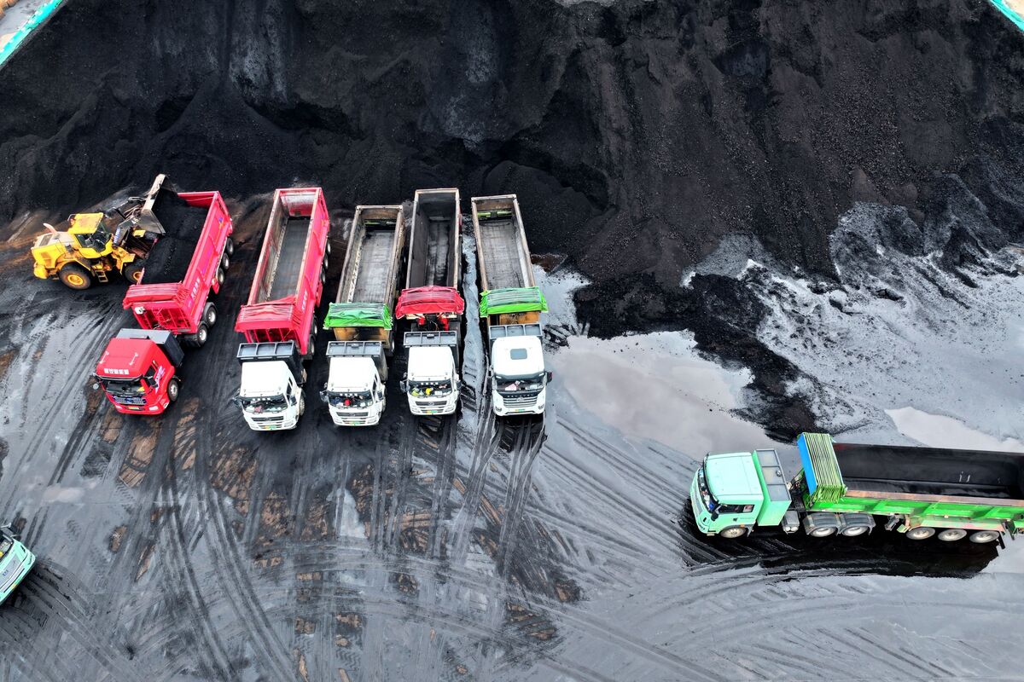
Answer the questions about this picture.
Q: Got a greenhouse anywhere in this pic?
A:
No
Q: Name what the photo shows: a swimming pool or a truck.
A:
truck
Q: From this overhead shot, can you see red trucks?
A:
Yes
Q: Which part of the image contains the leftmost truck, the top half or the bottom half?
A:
bottom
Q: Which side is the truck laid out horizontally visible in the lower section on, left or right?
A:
right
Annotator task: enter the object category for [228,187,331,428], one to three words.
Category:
truck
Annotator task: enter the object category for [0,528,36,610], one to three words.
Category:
truck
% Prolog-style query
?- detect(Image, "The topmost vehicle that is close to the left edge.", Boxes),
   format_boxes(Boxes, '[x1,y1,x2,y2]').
[29,172,177,289]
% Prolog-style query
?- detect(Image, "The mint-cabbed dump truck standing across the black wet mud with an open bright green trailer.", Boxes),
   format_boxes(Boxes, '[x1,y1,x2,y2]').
[693,435,1024,543]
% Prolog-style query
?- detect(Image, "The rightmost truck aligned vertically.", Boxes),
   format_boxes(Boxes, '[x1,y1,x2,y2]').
[471,194,555,414]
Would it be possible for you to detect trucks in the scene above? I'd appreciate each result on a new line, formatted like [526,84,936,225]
[693,435,1024,543]
[395,188,465,414]
[91,190,234,411]
[228,187,331,428]
[0,528,36,610]
[315,205,407,425]
[471,194,555,414]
